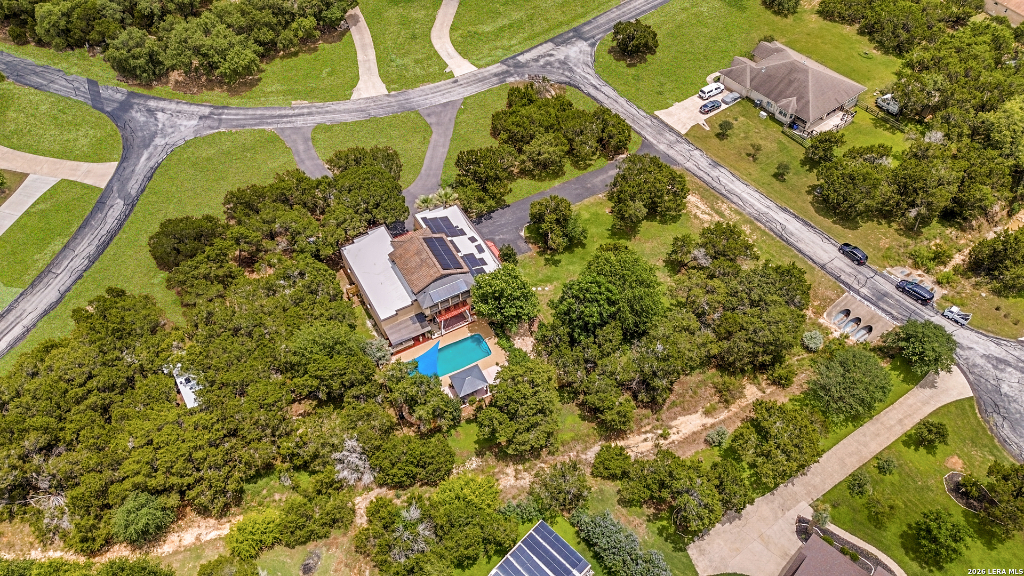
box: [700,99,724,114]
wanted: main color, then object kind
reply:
gray car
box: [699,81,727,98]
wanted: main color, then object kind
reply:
white vehicle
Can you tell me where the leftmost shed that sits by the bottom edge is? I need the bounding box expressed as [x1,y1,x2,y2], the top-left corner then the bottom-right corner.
[490,520,593,576]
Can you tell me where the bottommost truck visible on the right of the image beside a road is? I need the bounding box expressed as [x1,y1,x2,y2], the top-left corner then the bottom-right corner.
[944,305,973,326]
